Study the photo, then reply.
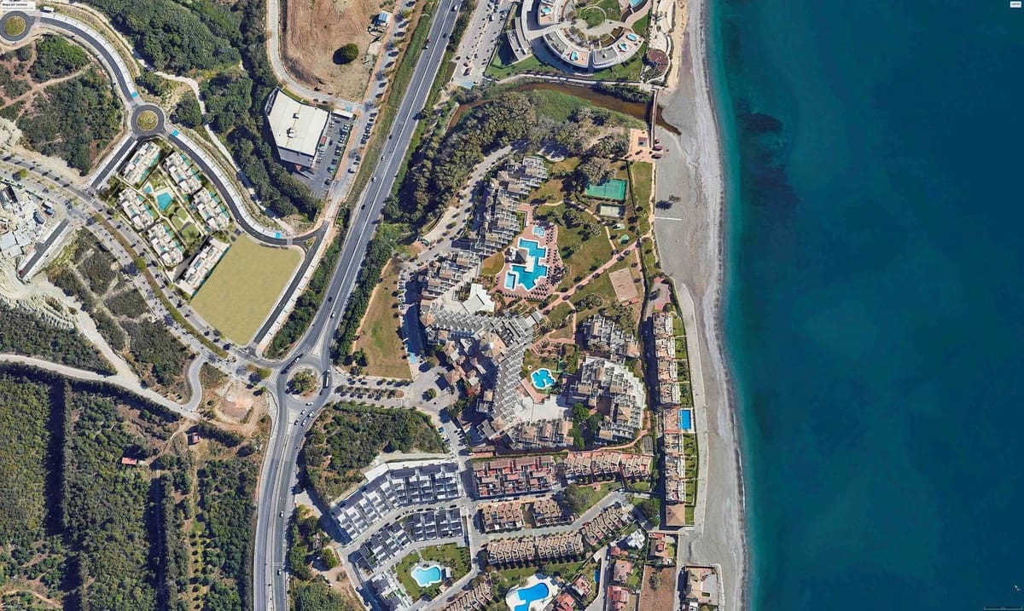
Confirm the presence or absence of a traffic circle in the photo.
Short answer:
Yes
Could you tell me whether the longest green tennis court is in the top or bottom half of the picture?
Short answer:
top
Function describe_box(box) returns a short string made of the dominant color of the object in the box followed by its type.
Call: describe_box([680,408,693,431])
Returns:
blue swimming pool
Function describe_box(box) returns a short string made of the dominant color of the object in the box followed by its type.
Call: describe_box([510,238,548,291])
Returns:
blue swimming pool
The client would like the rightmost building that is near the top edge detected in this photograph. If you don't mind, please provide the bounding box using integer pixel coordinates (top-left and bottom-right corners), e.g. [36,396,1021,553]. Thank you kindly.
[590,25,640,67]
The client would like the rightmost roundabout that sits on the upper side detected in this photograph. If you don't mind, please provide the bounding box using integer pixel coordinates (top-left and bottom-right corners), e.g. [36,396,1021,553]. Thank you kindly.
[131,103,165,137]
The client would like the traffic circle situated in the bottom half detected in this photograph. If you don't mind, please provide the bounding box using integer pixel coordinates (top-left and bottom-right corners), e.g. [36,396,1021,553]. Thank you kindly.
[276,356,332,411]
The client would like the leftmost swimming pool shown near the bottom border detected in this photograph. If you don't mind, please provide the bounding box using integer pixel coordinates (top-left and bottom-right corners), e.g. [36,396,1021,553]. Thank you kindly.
[412,564,442,588]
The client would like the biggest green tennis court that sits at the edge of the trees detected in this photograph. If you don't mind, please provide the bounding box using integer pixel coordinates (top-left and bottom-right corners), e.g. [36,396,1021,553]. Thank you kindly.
[586,175,626,200]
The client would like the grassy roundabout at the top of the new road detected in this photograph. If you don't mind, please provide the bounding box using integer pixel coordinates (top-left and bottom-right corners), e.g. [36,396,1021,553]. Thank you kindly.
[0,10,31,41]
